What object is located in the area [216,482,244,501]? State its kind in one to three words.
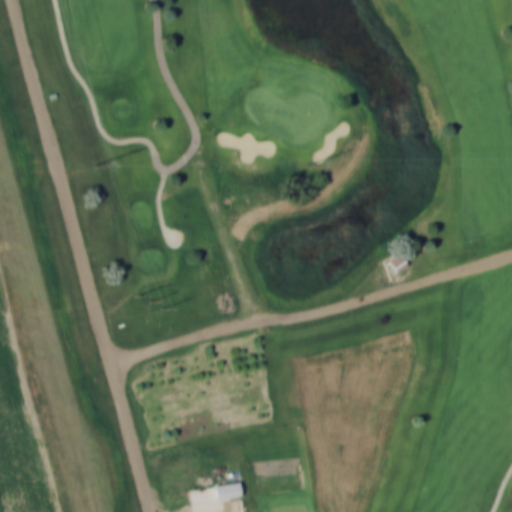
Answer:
barn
